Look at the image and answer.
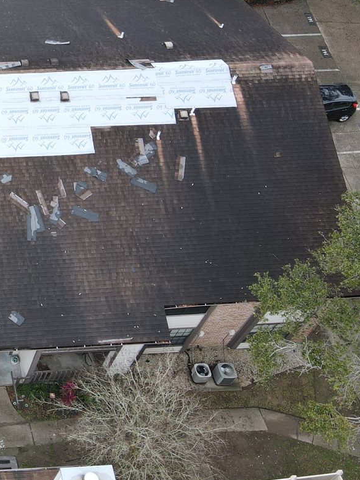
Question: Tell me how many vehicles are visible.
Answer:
1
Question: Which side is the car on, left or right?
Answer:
right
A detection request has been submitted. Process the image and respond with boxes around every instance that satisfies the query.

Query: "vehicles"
[317,78,355,120]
